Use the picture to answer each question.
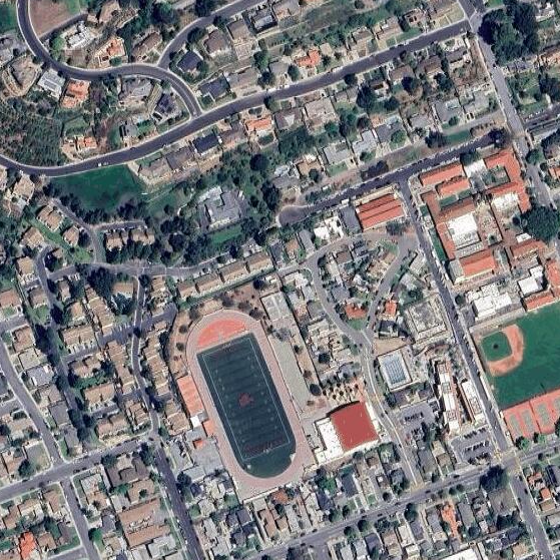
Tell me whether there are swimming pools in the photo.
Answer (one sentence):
Yes, a swimming pool can be made out from above.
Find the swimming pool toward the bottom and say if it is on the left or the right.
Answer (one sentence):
The swimming pool toward the bottom appears in the right half of the scene.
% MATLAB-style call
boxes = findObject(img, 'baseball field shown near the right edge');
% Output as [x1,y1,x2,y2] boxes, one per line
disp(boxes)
[472,301,560,409]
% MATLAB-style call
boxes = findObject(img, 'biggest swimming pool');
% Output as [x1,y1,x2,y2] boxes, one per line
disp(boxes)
[379,350,411,388]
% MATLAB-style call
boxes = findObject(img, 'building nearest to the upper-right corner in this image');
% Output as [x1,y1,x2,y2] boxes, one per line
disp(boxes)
[536,0,559,23]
